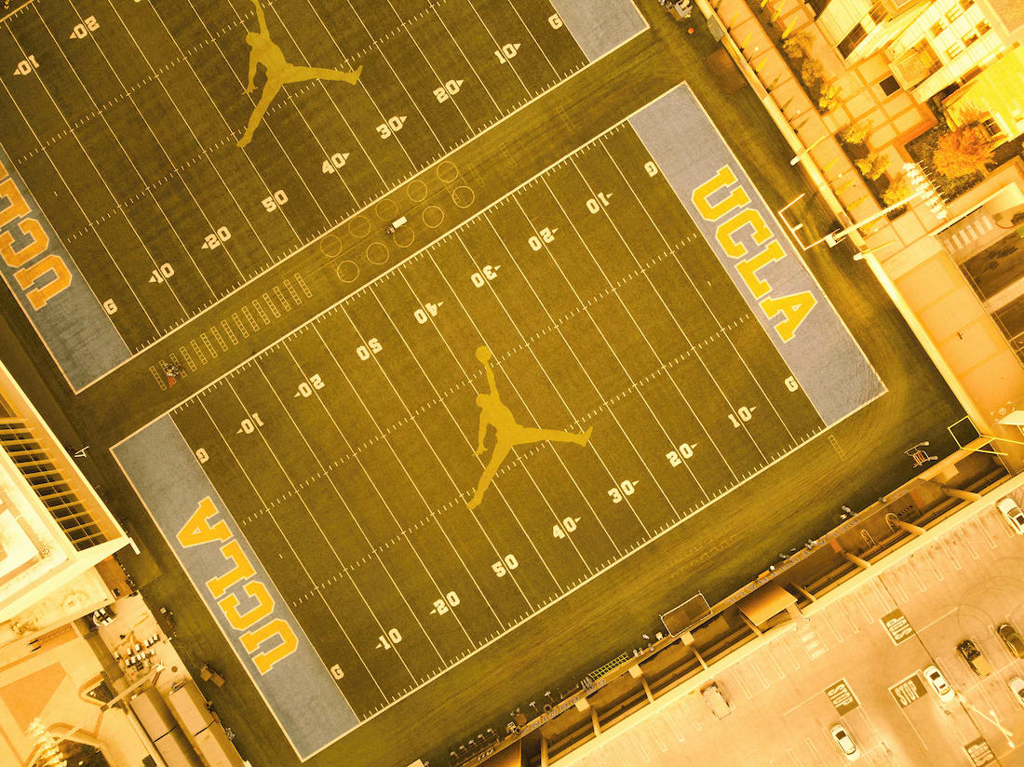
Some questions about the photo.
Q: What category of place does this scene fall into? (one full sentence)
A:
What you see here is a sports ground.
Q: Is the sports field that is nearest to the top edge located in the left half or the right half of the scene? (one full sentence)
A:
It is on the left.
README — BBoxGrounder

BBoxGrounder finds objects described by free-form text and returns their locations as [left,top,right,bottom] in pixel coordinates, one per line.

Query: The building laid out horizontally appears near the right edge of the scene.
[795,0,1024,105]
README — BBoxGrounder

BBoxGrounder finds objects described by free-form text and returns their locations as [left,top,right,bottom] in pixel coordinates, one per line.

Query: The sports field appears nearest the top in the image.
[0,0,651,395]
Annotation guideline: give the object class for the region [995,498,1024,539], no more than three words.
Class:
car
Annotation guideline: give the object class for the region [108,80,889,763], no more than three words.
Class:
sports field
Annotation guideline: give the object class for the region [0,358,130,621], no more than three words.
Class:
building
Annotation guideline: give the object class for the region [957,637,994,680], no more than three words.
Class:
truck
